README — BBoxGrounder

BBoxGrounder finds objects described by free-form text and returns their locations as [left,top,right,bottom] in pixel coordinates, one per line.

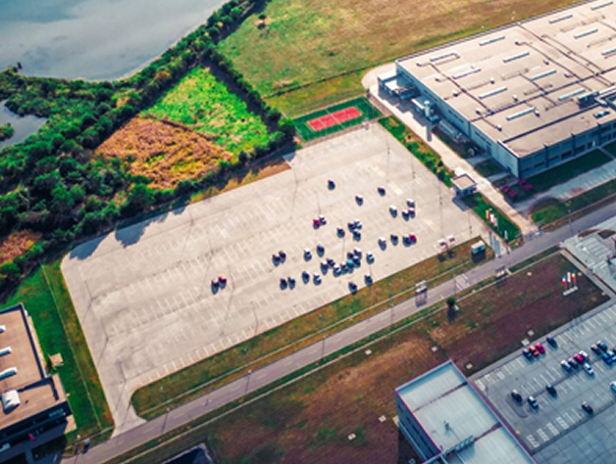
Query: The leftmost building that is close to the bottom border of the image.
[0,309,74,447]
